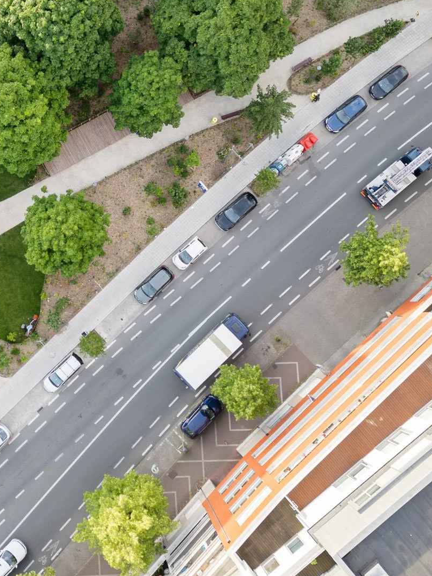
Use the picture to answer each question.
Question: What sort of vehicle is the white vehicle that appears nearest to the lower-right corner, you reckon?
truck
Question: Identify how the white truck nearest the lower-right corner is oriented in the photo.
at an angle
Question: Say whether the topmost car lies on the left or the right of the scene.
right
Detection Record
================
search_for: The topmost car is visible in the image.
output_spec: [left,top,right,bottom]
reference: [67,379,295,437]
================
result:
[366,62,412,102]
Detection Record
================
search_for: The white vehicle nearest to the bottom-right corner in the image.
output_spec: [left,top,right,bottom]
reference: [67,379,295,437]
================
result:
[174,306,258,393]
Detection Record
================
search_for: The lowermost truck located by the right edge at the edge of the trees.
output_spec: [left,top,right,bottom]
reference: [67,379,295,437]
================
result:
[355,134,432,217]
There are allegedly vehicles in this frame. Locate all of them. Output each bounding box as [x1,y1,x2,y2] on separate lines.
[131,262,176,305]
[322,93,369,135]
[366,62,412,102]
[355,134,432,217]
[213,190,260,232]
[0,537,29,576]
[174,306,258,393]
[42,350,87,394]
[170,235,210,272]
[0,422,13,448]
[179,393,223,441]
